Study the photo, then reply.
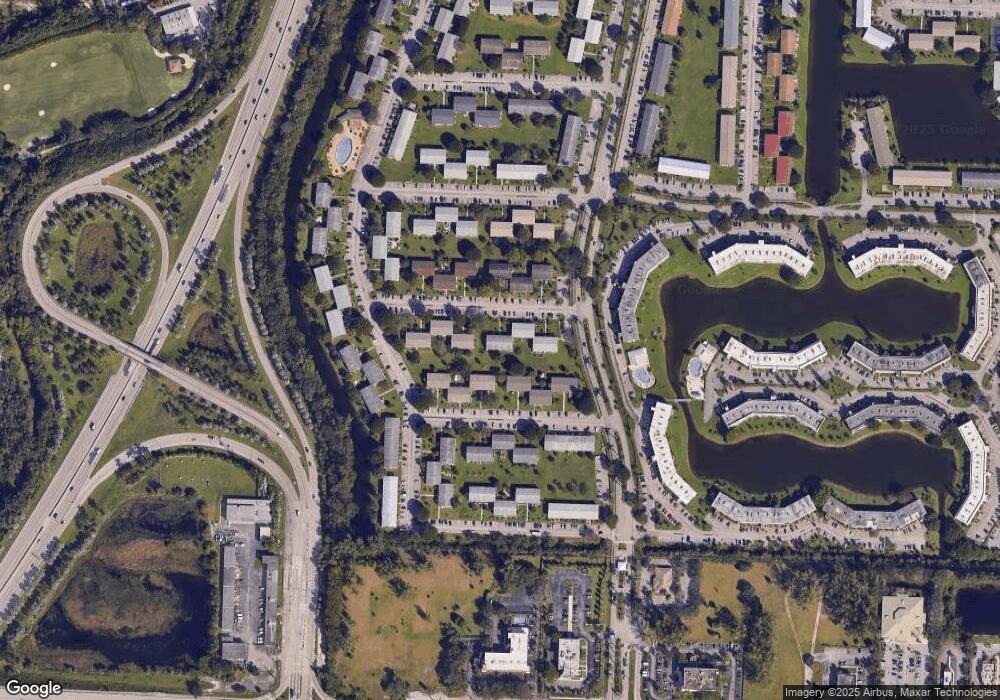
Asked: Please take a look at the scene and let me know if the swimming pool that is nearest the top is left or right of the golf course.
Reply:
right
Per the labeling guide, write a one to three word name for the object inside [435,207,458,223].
house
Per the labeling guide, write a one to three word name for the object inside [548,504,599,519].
house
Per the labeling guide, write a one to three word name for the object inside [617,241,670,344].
building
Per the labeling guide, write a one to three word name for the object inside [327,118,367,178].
swimming pool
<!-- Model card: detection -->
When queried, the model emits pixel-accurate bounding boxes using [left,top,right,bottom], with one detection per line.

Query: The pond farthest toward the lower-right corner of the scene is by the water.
[956,584,1000,638]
